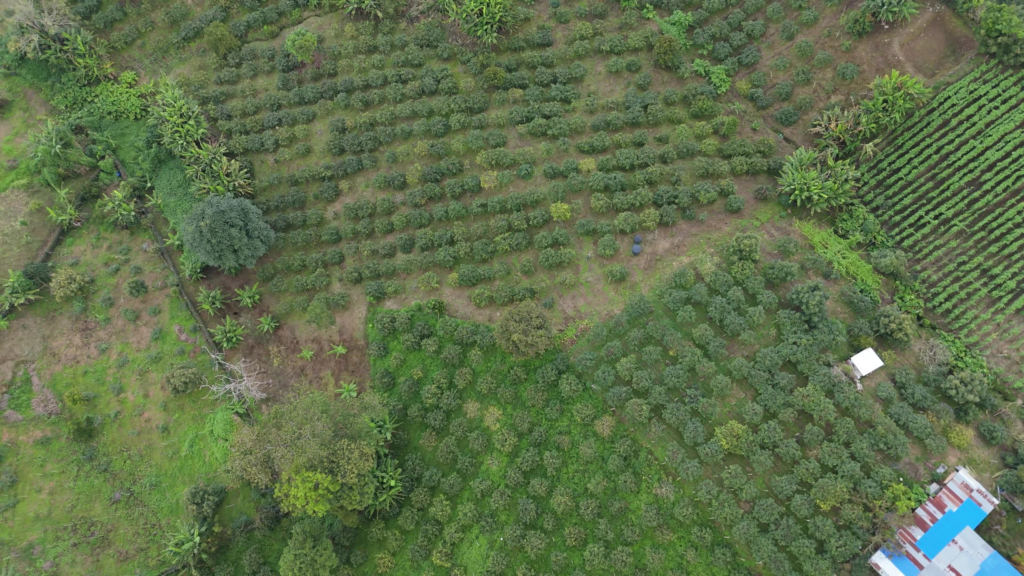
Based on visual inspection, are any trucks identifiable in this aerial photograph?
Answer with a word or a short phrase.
No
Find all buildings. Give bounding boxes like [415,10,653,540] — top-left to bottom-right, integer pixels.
[865,468,1022,576]
[845,347,884,380]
